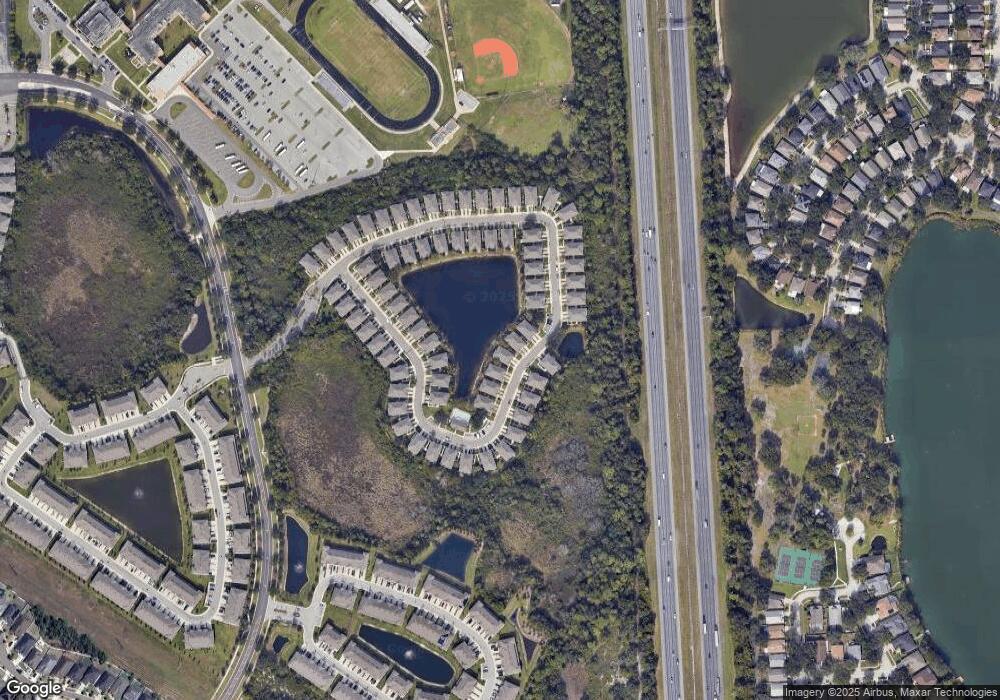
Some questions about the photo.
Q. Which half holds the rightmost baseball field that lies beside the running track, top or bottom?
top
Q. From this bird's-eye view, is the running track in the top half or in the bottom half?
top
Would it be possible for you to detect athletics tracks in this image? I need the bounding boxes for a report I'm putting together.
[291,0,445,136]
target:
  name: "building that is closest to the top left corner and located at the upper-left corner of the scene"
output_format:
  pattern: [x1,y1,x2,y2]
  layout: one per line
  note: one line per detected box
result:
[73,0,123,47]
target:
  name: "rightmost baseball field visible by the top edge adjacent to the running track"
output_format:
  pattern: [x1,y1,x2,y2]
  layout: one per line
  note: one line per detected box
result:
[473,0,573,84]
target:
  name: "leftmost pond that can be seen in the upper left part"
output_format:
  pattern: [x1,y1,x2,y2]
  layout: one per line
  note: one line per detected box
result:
[26,106,186,229]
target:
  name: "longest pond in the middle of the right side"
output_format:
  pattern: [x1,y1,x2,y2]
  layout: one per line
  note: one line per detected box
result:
[735,277,812,329]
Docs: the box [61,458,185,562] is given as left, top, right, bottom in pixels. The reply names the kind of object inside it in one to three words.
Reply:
pond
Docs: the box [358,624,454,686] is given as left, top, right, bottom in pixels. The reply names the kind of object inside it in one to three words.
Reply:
pond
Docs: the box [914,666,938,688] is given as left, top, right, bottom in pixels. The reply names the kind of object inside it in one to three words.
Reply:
house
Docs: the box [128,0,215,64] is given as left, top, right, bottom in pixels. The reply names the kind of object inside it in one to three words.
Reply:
building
